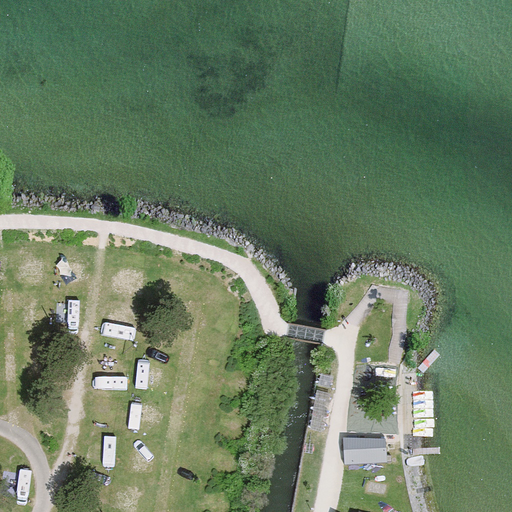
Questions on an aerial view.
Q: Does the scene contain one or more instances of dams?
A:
No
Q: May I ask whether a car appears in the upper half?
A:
No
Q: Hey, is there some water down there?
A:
Yes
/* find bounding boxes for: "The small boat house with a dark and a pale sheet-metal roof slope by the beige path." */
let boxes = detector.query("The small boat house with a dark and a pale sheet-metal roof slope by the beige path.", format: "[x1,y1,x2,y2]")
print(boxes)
[343,436,388,466]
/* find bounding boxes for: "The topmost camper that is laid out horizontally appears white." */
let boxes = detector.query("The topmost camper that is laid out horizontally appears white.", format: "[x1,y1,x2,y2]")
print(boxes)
[97,322,136,340]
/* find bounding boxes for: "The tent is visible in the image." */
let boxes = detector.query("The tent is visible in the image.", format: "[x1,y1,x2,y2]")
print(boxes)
[56,253,76,285]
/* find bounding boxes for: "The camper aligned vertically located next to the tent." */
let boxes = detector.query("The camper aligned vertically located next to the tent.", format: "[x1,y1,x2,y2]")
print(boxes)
[67,299,81,334]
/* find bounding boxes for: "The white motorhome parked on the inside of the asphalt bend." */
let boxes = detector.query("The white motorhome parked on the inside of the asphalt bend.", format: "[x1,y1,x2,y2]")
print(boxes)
[16,468,34,505]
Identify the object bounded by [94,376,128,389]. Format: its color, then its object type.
white vehicle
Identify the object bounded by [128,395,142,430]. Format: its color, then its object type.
white vehicle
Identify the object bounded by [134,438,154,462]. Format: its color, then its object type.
white car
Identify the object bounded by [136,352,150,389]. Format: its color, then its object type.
white camper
